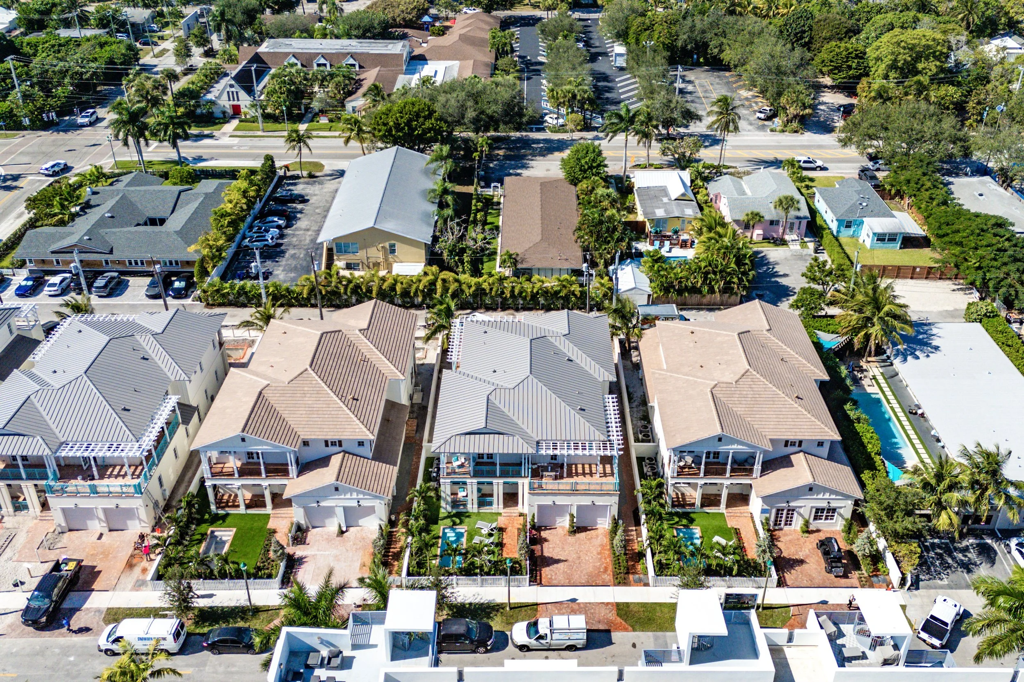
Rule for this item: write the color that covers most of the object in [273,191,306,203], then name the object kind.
black vehicle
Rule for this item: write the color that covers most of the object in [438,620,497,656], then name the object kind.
black truck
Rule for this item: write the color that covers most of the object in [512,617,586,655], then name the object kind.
white truck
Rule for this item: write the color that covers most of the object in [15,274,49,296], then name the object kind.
blue car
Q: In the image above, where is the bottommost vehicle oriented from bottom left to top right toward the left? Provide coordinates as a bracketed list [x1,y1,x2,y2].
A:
[16,566,80,633]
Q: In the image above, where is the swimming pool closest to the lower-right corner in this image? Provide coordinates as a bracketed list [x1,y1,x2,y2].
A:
[856,390,924,463]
